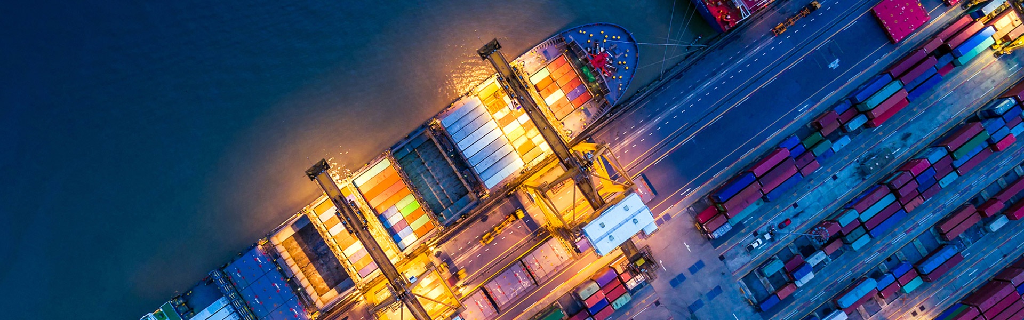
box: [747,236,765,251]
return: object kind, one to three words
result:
vehicle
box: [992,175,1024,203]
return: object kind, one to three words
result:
shipping container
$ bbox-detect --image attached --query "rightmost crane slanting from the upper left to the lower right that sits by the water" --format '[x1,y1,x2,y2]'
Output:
[468,36,665,290]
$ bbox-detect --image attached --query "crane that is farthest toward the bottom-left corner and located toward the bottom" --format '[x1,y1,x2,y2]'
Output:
[292,161,486,320]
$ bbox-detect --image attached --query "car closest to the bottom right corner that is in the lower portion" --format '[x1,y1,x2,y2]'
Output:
[777,217,793,229]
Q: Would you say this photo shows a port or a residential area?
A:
port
